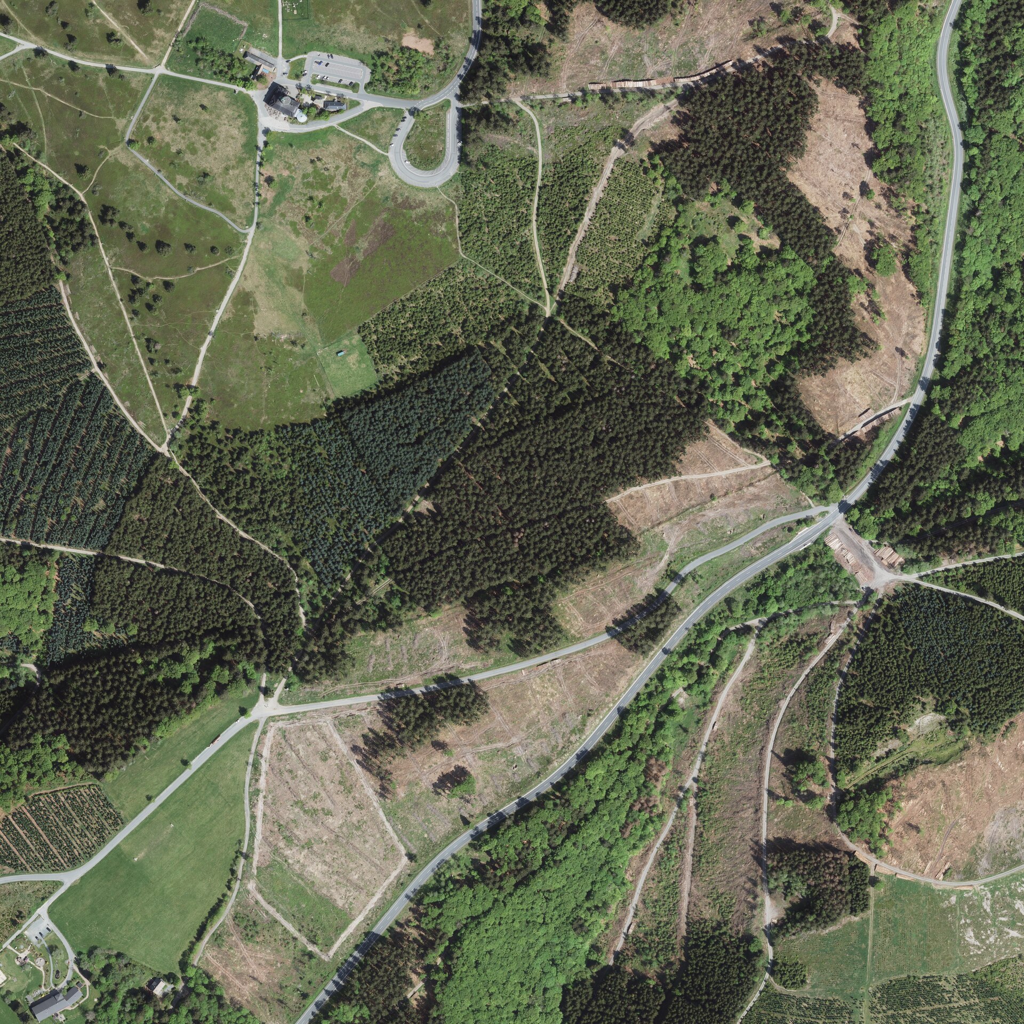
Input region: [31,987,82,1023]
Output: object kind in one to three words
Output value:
building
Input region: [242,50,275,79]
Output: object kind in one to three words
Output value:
barn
